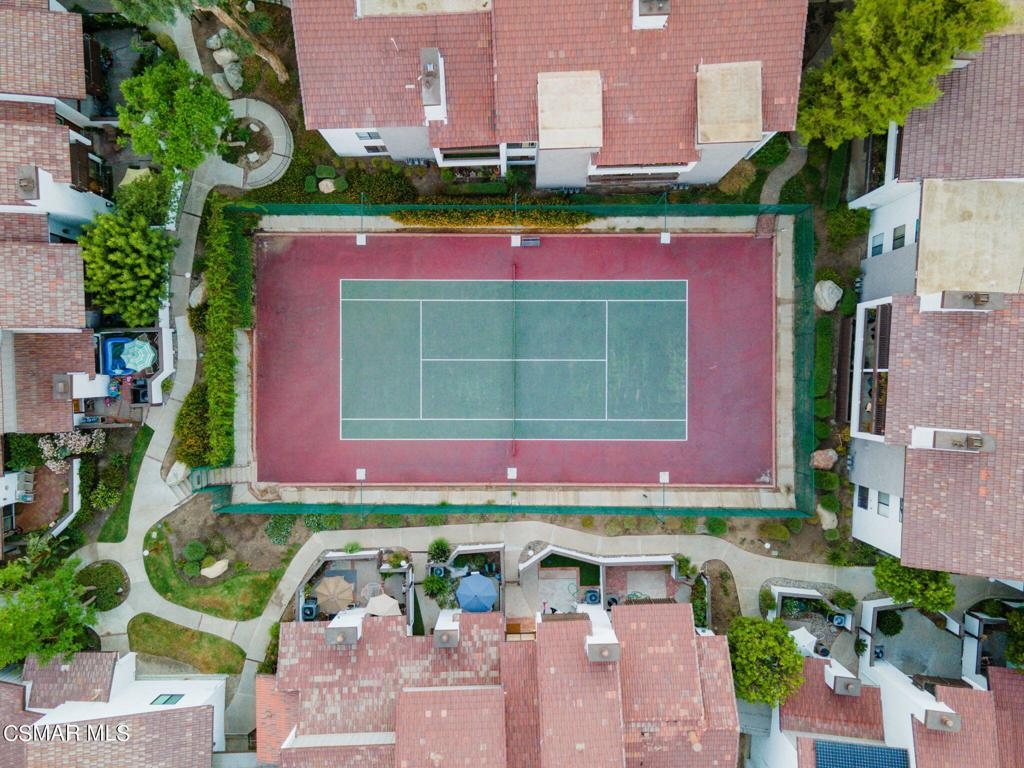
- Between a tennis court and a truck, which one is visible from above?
tennis court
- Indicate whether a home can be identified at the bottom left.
Yes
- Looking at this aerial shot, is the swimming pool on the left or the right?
left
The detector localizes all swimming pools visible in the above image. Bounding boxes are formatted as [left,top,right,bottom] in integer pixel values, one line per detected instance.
[105,339,135,374]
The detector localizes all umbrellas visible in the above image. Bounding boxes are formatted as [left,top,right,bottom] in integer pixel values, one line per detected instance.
[785,624,822,657]
[316,575,355,614]
[367,589,397,616]
[120,160,159,191]
[121,337,159,371]
[457,573,496,611]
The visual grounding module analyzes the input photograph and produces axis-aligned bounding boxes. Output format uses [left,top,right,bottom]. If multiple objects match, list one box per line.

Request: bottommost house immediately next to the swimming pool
[0,331,107,473]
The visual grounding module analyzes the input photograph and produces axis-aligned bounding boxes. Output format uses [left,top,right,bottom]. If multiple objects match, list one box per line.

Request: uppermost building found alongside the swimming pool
[0,206,115,335]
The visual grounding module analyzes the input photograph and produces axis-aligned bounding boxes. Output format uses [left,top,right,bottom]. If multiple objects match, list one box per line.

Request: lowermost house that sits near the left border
[0,646,233,768]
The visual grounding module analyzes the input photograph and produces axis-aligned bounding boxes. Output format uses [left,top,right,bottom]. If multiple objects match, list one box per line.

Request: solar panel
[816,741,909,768]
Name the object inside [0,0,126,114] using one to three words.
house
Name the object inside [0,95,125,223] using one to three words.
house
